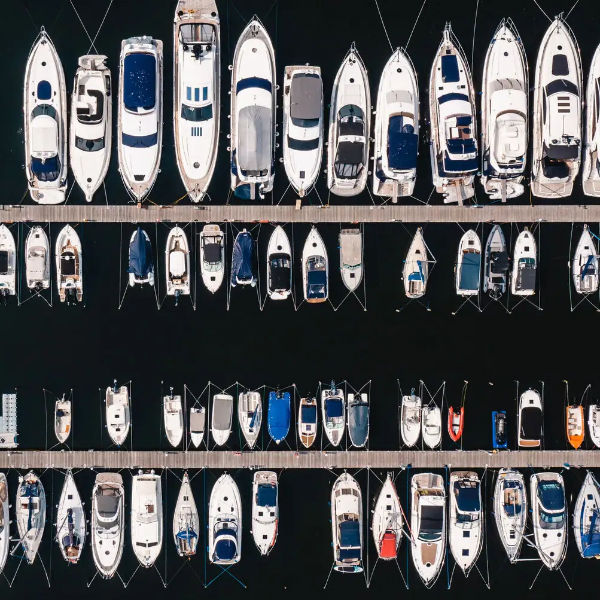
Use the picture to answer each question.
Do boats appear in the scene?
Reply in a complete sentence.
Yes, the image includes a boat.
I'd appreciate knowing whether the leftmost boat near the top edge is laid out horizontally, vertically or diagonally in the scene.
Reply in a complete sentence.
I'd say the leftmost boat near the top edge is aligned vertically in the picture.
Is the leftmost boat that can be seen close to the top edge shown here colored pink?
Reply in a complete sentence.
No, from above the leftmost boat that can be seen close to the top edge looks white.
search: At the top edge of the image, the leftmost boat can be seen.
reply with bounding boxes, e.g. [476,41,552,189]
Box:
[22,27,67,204]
